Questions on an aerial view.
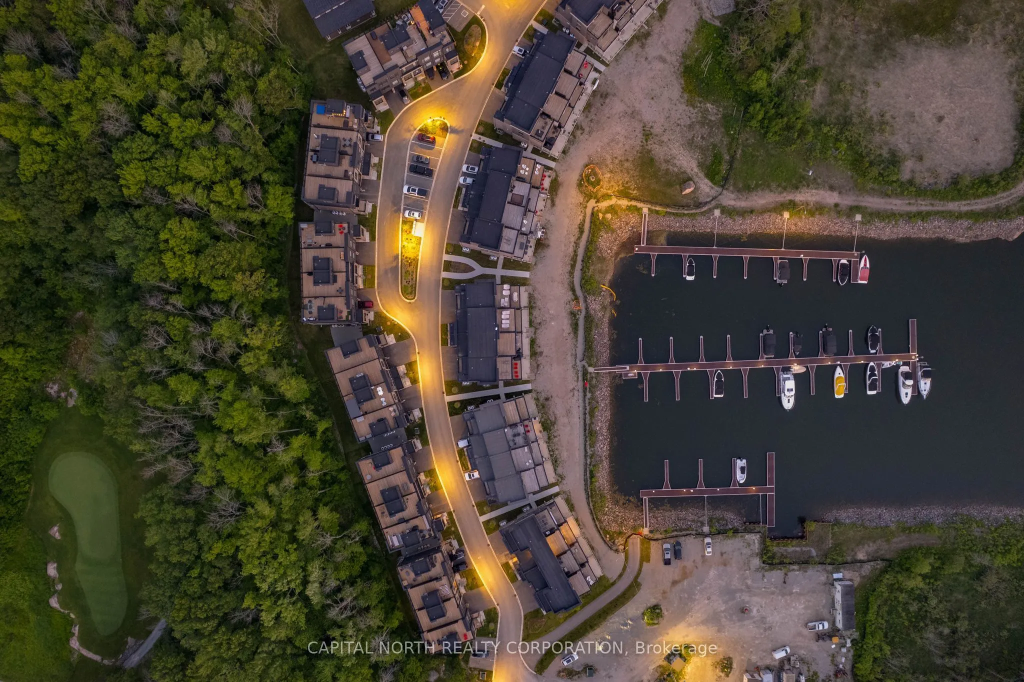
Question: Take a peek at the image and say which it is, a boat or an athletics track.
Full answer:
This aerial view contains a boat.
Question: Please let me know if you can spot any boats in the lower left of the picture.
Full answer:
No, in the lower left of the picture there is no boat.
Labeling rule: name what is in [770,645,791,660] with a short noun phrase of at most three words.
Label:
vehicle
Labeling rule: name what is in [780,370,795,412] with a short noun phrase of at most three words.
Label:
boat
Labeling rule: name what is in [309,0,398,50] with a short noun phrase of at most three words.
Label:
house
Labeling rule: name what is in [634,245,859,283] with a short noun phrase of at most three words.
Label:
pier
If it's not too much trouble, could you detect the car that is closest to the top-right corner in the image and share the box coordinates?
[512,44,530,56]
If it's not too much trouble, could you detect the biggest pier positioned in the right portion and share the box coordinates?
[616,319,918,401]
